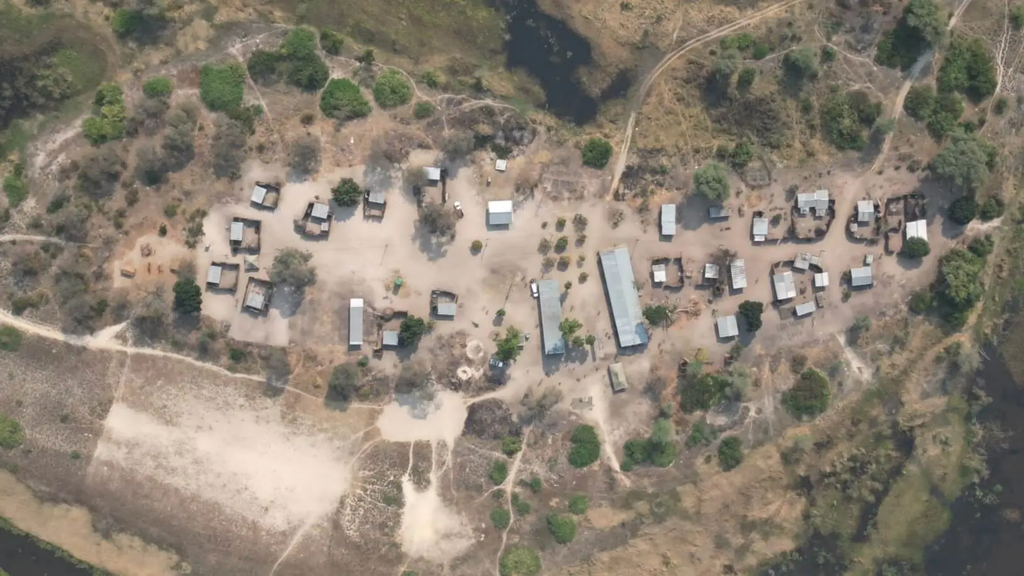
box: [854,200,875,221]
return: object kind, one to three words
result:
house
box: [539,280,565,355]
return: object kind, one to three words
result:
building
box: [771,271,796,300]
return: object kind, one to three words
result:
house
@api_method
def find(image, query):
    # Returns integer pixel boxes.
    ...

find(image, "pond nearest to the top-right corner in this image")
[485,0,633,128]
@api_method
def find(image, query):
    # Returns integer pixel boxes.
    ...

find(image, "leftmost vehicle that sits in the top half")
[453,201,465,219]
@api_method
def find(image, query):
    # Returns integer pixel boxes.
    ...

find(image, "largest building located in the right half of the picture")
[599,246,647,348]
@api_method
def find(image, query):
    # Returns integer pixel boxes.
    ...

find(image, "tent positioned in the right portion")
[609,362,627,390]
